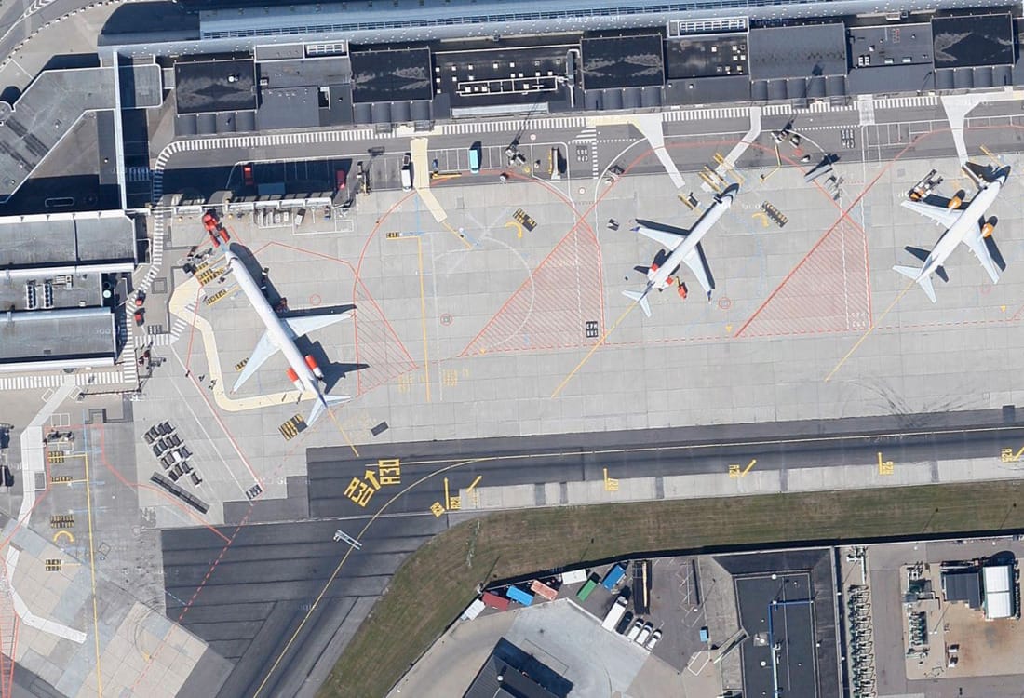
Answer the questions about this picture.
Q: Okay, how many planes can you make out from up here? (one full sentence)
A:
In total, 3 planes can be seen.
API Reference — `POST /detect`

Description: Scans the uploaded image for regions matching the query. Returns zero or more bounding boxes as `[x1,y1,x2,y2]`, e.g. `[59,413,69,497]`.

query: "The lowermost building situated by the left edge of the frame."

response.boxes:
[0,307,117,372]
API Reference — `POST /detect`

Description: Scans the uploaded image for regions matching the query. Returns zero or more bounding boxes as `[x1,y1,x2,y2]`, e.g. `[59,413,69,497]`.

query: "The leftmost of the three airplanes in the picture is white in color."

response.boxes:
[226,253,353,424]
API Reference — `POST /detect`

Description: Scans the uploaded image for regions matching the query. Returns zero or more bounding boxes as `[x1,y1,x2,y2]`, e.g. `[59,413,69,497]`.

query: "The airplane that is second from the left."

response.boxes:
[623,185,739,316]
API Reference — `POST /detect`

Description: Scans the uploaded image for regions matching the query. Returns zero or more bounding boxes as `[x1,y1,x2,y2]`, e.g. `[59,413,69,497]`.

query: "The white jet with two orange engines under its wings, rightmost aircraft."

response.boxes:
[894,166,1010,302]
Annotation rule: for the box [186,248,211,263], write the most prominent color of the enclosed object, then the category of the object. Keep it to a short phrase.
gray work vehicle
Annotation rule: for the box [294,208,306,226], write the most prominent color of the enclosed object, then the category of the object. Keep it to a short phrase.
white vehicle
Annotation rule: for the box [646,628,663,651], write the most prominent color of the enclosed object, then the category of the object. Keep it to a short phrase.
white car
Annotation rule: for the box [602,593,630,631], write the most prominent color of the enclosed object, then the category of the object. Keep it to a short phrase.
white truck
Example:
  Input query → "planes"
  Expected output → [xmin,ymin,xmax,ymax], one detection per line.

[894,166,1010,302]
[623,185,739,316]
[226,253,353,424]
